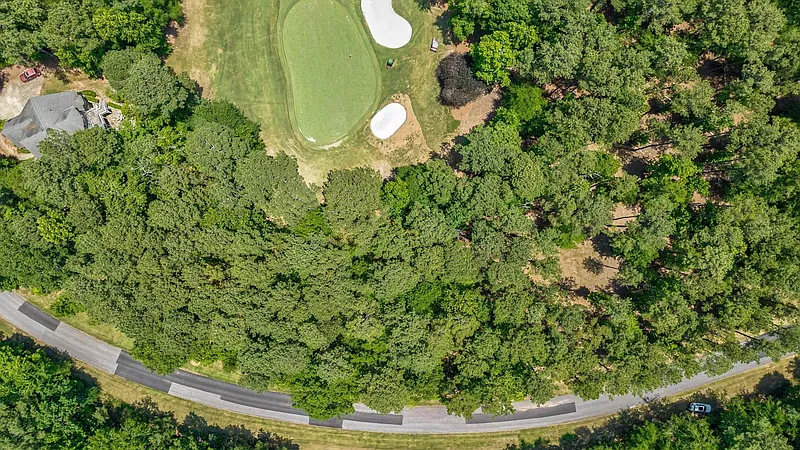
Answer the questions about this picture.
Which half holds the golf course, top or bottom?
top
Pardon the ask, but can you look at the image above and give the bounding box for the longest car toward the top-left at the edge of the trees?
[17,66,40,82]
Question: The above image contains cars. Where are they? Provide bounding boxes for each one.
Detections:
[690,402,712,414]
[17,66,40,82]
